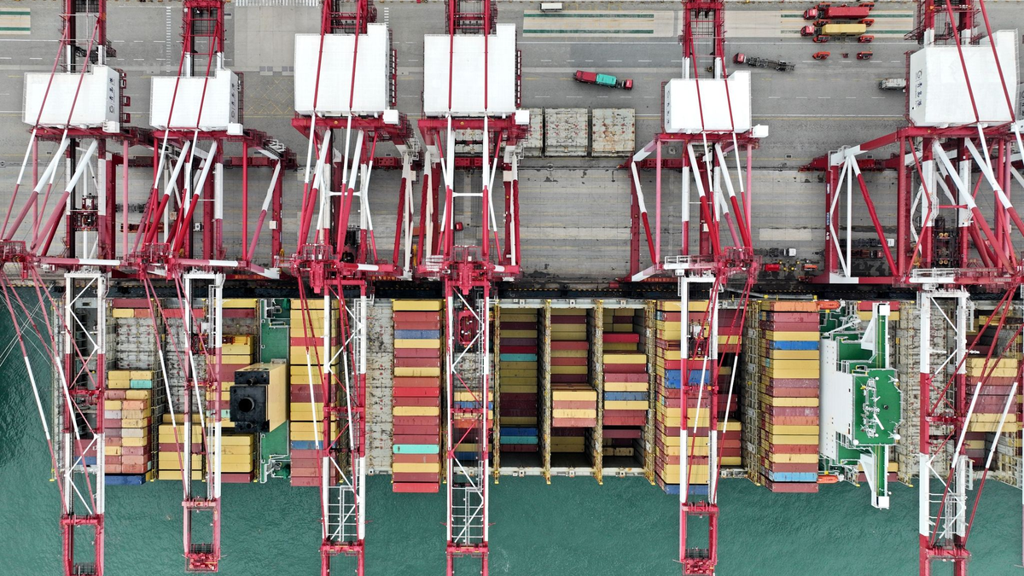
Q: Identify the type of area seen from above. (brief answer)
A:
port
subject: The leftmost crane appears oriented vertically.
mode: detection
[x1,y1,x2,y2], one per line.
[0,0,206,576]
